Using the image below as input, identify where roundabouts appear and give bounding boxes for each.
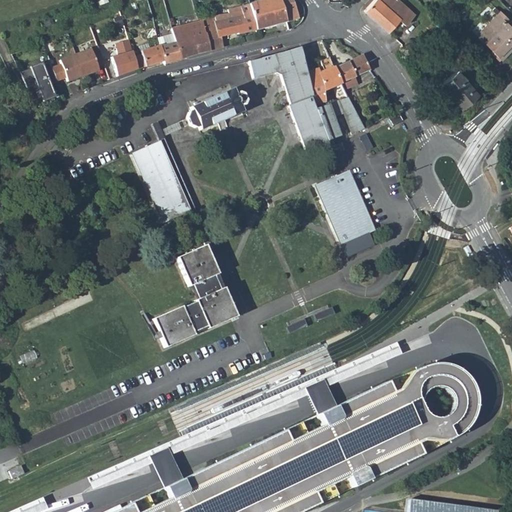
[411,106,512,318]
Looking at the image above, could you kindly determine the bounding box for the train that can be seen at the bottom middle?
[210,370,303,414]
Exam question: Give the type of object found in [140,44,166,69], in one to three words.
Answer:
house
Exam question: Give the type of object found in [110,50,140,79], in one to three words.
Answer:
house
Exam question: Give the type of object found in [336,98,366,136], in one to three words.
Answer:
shed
